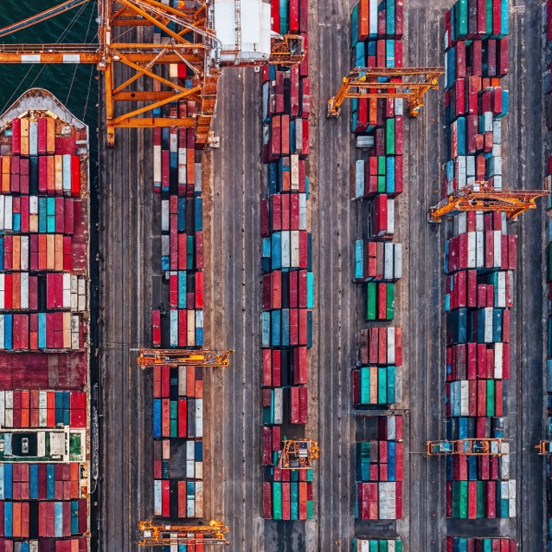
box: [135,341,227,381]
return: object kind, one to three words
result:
crane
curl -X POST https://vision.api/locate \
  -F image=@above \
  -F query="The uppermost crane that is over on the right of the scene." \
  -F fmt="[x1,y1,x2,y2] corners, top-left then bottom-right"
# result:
[334,69,441,128]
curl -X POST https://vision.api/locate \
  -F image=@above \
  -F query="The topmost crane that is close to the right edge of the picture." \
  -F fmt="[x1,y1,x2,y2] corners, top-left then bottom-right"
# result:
[436,186,551,236]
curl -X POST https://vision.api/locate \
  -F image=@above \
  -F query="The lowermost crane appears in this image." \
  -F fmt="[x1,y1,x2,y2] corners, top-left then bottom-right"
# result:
[136,508,227,551]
